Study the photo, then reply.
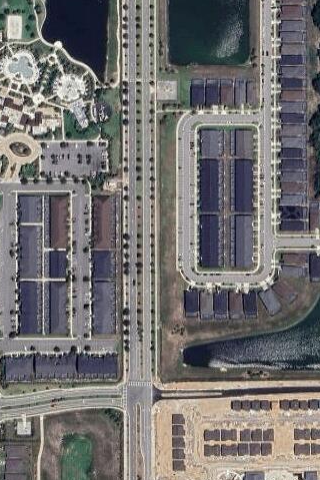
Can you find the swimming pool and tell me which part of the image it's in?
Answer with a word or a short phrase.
top left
